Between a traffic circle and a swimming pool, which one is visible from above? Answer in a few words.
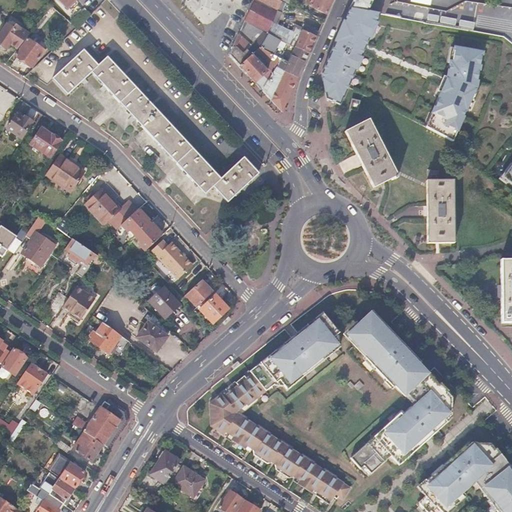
traffic circle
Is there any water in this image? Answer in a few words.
No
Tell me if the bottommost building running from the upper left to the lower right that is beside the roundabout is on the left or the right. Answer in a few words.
right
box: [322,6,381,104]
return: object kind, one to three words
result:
building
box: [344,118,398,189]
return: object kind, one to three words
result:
building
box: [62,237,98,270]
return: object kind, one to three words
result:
house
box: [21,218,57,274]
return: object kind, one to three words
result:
house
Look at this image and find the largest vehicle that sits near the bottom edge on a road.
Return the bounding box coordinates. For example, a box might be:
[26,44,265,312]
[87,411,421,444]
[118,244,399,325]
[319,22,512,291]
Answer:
[101,472,118,494]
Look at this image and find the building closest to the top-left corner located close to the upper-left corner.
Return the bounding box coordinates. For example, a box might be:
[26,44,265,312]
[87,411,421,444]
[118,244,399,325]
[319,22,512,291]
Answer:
[0,18,32,52]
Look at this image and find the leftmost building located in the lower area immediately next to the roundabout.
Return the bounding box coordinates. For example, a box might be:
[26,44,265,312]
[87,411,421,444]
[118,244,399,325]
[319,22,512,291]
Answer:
[262,312,344,390]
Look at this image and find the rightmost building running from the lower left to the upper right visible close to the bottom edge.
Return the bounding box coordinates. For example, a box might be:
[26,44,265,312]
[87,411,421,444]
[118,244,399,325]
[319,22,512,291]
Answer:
[414,440,500,512]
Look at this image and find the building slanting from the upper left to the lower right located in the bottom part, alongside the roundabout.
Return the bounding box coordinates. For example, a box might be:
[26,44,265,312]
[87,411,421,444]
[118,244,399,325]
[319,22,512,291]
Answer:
[344,310,446,402]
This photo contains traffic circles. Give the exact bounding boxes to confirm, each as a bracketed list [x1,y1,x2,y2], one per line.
[282,194,369,282]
